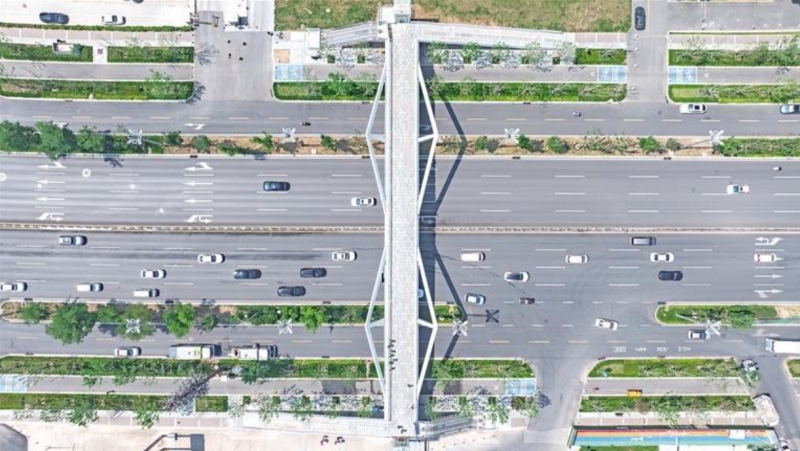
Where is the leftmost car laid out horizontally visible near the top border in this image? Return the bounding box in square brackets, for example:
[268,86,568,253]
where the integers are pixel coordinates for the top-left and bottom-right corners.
[41,10,68,23]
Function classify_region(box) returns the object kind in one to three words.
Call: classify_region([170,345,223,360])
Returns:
vehicle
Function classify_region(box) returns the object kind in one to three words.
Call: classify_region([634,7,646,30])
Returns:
vehicle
